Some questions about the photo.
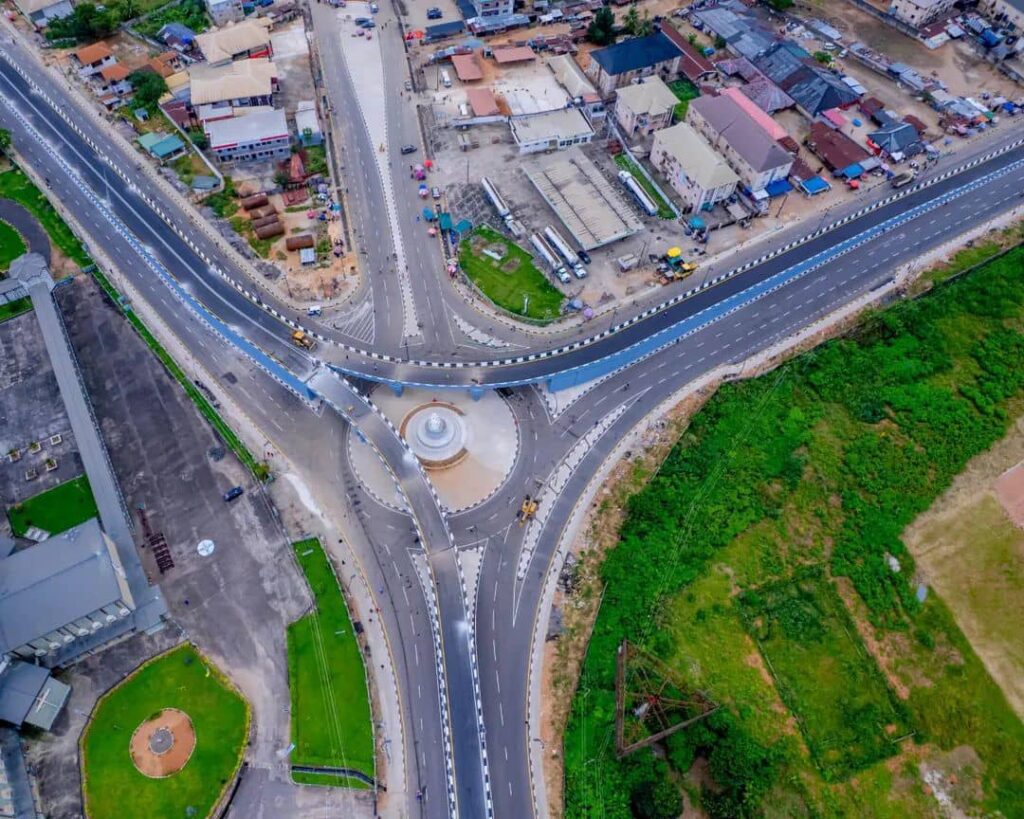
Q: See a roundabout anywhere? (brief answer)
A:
Yes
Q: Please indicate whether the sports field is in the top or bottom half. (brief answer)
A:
bottom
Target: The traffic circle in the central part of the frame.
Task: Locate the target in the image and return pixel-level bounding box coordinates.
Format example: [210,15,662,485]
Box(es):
[319,362,541,539]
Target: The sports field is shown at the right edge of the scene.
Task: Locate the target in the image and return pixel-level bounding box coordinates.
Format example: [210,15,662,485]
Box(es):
[902,415,1024,721]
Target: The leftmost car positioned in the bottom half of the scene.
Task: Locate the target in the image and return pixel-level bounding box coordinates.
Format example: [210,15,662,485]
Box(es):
[220,485,245,501]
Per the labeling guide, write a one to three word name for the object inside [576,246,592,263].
car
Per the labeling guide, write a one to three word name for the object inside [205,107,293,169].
building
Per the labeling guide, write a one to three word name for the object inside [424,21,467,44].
house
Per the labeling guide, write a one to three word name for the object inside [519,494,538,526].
work vehicle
